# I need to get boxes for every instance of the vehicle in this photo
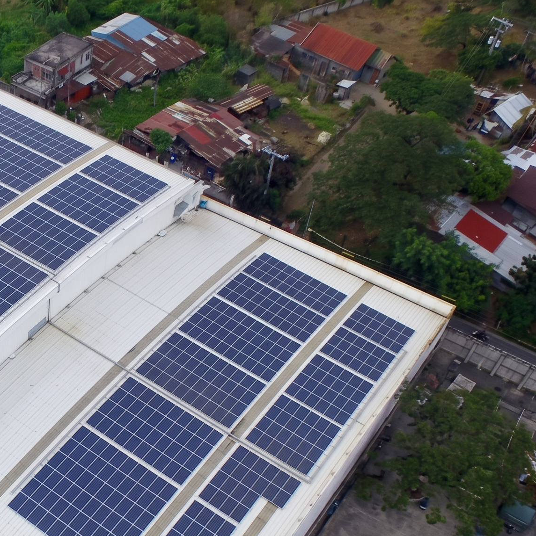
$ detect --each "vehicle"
[493,500,536,528]
[472,331,490,340]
